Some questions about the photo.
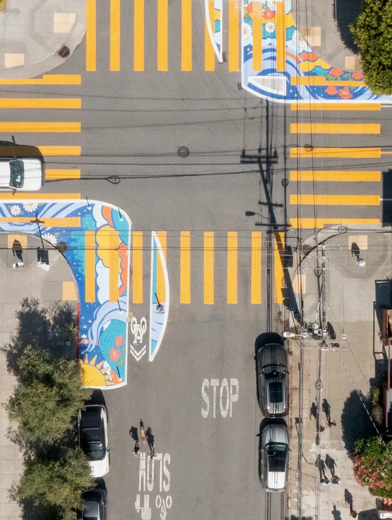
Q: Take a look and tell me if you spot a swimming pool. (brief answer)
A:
No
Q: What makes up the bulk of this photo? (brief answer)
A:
paved ground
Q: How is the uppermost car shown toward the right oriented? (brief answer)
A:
from top to bottom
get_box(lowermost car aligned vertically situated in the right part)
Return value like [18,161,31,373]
[257,421,292,492]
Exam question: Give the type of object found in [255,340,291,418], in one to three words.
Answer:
car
